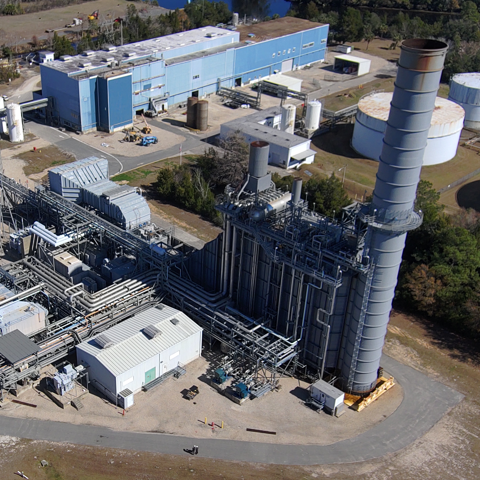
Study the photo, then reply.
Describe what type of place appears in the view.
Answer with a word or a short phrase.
industrial area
